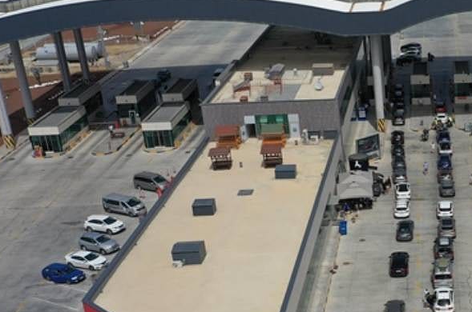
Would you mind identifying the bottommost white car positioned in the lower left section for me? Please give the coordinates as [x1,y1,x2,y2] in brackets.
[65,248,108,269]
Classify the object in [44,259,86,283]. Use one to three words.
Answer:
car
